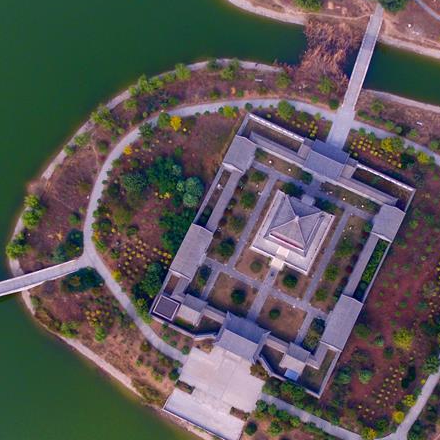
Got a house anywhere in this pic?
Yes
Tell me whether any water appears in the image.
Yes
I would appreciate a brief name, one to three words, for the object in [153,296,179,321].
building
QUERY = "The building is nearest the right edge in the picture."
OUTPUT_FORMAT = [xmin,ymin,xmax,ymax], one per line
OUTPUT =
[371,204,405,244]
